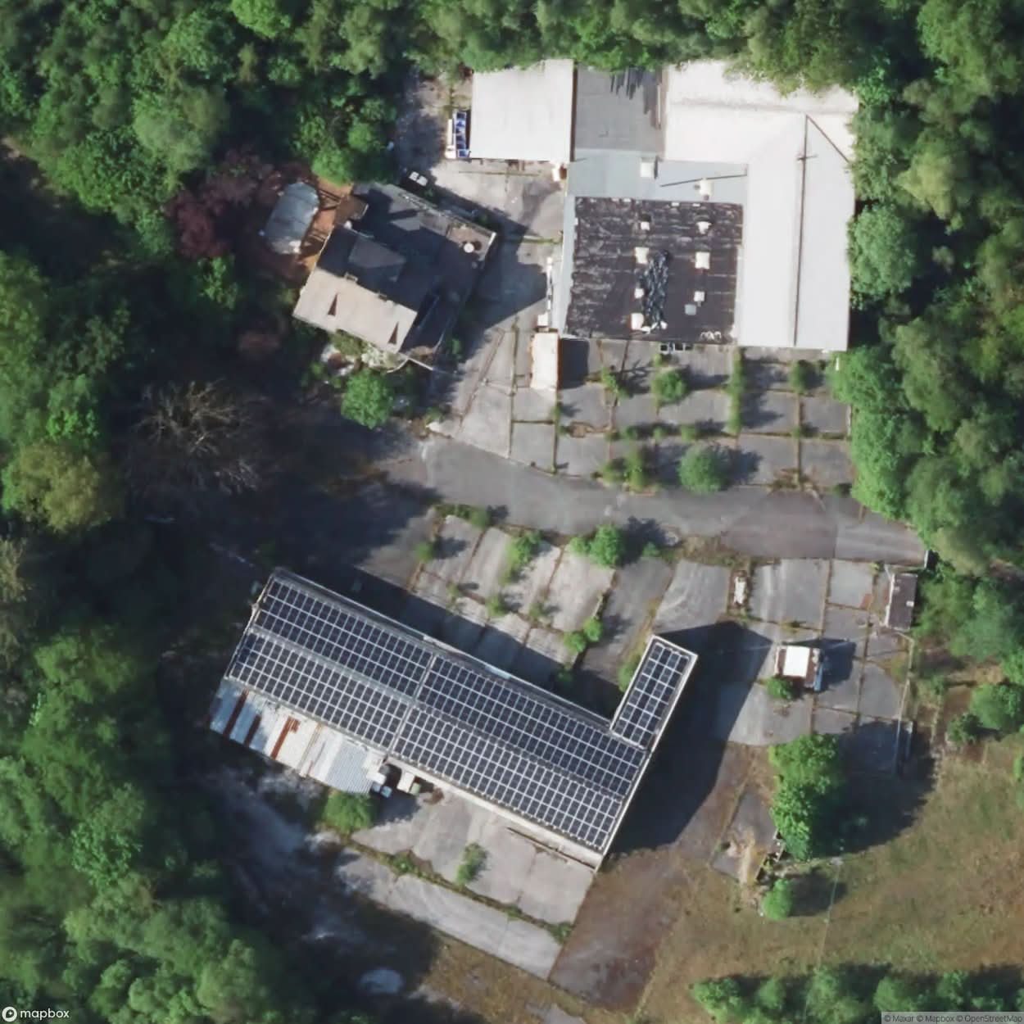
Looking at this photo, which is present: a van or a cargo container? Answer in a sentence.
Visible in the photo is a cargo container.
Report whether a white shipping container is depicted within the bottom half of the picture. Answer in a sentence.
No, no white shipping container can be made out within the bottom half of the picture.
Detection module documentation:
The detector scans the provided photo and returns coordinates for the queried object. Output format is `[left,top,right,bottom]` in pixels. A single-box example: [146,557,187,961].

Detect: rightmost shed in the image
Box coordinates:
[883,573,918,631]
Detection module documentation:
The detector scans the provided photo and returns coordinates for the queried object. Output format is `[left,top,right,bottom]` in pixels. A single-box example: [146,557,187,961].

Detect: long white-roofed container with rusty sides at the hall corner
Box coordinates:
[531,333,559,394]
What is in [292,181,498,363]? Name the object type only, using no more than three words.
house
